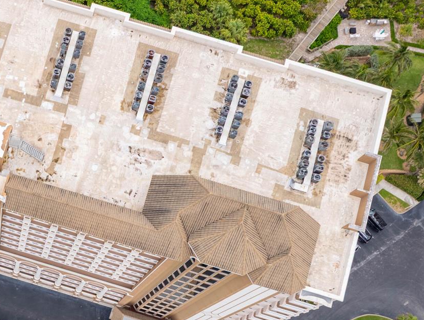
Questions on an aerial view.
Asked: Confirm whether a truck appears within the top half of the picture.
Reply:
No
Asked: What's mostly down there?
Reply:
buildings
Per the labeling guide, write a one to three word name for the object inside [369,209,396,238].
truck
